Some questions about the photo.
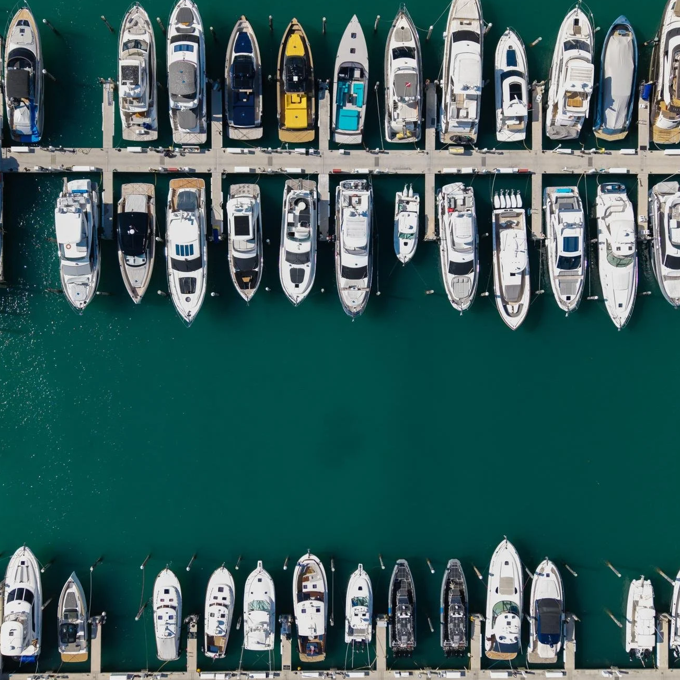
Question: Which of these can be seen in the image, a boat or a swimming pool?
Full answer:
Visible in the photo is a boat.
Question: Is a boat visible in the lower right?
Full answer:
Yes, there is a boat in the lower right.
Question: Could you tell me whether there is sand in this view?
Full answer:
No, there is no sand in the image.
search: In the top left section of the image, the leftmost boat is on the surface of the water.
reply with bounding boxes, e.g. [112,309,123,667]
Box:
[5,2,50,144]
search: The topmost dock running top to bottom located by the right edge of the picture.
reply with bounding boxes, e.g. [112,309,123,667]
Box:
[637,84,649,149]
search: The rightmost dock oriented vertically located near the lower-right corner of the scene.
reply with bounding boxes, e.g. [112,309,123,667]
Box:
[654,617,668,670]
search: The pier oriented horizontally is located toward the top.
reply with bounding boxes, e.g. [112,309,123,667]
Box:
[3,148,680,175]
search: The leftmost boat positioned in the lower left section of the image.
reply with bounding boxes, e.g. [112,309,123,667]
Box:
[1,540,45,662]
